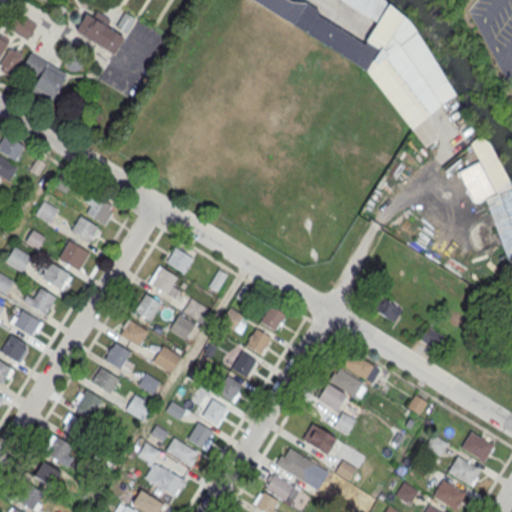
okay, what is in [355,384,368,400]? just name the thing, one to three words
vehicle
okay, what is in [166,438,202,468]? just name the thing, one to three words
house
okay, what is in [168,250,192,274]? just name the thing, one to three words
house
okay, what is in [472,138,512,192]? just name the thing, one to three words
building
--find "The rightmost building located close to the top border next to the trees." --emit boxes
[367,2,458,128]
